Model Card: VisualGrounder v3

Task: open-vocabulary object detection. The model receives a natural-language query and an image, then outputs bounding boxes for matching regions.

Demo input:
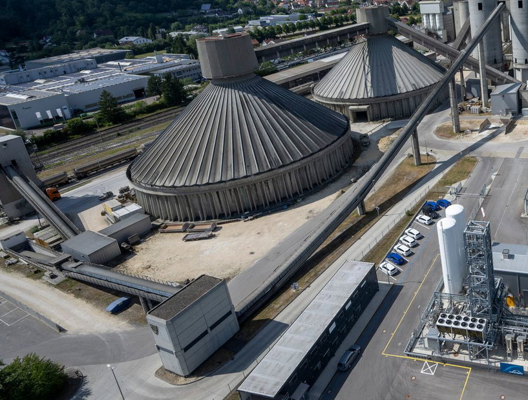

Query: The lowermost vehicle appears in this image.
[336,345,360,375]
